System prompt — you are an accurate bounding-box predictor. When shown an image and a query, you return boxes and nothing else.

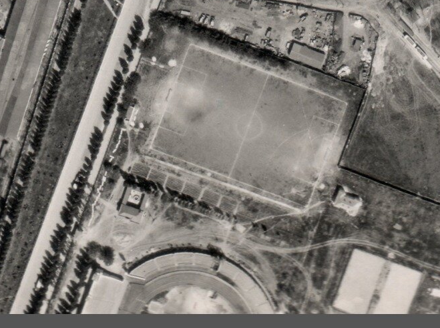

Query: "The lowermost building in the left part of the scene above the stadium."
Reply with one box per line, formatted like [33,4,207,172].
[119,185,145,216]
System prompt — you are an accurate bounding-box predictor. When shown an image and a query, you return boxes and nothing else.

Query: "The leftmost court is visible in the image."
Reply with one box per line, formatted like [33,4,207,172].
[333,249,386,319]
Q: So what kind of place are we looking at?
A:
sports ground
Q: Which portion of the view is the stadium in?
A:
bottom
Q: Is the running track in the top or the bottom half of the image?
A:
bottom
